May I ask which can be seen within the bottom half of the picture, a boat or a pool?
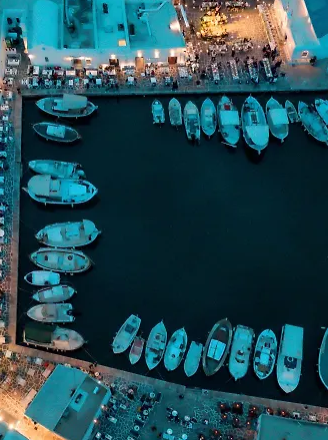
boat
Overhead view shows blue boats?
Yes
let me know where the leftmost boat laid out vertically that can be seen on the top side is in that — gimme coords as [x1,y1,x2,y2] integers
[151,93,164,126]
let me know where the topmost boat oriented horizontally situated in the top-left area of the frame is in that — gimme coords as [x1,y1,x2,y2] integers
[20,94,98,119]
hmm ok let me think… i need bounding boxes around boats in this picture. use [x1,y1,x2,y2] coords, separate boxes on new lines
[290,90,328,146]
[277,90,299,125]
[144,321,167,376]
[122,333,145,376]
[306,90,328,128]
[200,96,216,138]
[275,324,304,403]
[22,325,96,363]
[163,327,189,372]
[215,92,241,148]
[111,314,141,371]
[226,324,255,387]
[151,93,164,126]
[20,120,81,142]
[18,220,101,250]
[28,248,95,276]
[180,92,201,143]
[264,93,289,141]
[18,270,60,287]
[20,94,98,119]
[167,93,182,129]
[251,329,276,400]
[240,93,269,153]
[180,340,202,387]
[197,318,234,390]
[315,327,328,407]
[20,304,73,325]
[18,286,77,304]
[20,175,98,207]
[19,158,83,179]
